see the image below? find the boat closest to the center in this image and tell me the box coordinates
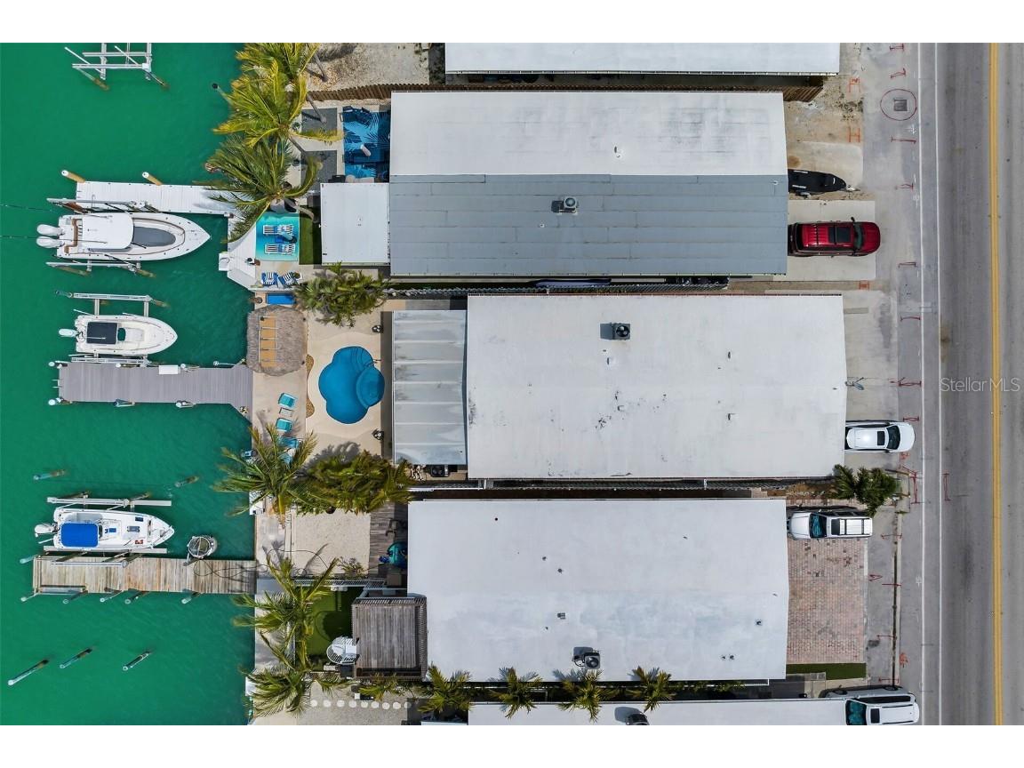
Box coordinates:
[535,275,613,288]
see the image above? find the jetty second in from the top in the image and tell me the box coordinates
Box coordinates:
[48,354,254,420]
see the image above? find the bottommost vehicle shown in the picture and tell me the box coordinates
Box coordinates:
[810,683,917,734]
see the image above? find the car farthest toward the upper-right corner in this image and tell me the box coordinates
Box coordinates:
[788,214,883,259]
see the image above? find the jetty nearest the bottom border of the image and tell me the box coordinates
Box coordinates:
[19,550,258,604]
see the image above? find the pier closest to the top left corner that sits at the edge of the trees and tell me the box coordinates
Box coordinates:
[62,170,236,215]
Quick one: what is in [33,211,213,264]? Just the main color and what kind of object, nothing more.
white boat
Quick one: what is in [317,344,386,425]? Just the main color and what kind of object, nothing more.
blue swimming pool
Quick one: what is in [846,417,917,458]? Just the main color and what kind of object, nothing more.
white car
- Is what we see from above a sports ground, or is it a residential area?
residential area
